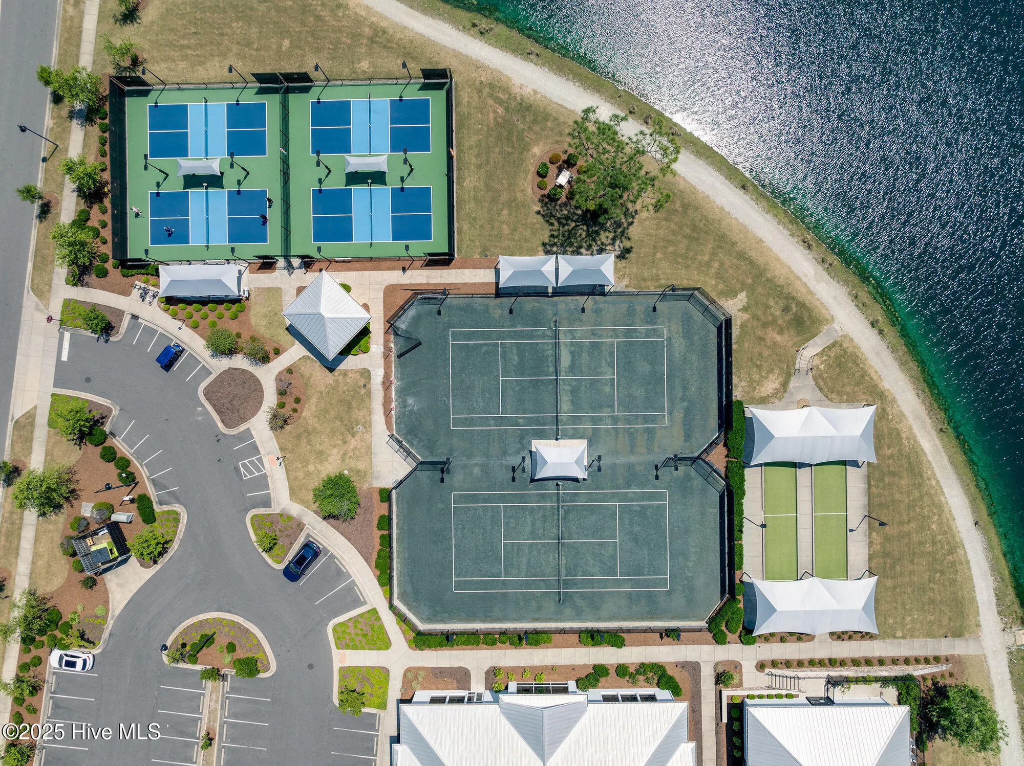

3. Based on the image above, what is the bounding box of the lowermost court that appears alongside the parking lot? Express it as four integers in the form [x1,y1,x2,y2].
[393,457,727,630]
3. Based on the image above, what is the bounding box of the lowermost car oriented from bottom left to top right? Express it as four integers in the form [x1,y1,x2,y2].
[284,540,321,584]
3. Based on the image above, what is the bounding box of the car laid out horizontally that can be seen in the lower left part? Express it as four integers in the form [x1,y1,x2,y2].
[51,648,97,672]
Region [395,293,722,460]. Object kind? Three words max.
tennis court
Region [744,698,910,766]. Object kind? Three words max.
building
